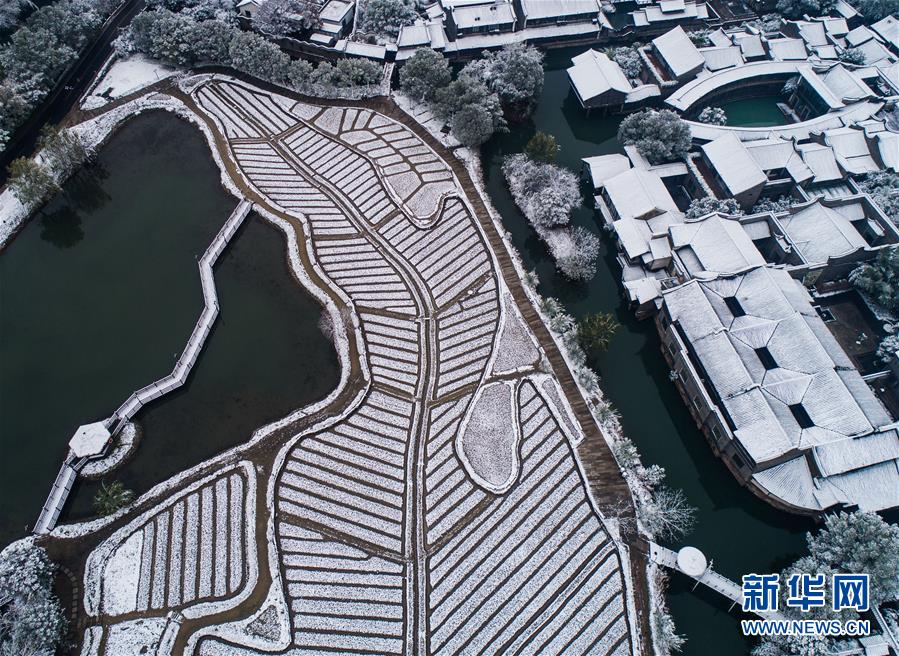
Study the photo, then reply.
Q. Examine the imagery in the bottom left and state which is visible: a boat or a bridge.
bridge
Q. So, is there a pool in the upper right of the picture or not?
Yes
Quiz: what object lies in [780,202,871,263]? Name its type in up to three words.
building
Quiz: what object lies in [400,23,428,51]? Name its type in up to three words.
house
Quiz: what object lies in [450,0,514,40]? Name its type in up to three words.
building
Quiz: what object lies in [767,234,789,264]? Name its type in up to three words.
shed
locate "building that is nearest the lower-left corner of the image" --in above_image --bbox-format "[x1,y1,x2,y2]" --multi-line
[68,422,125,471]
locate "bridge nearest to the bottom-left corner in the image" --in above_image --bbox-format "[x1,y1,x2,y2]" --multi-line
[25,440,83,532]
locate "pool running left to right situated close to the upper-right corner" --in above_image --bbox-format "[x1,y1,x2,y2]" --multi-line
[688,91,795,127]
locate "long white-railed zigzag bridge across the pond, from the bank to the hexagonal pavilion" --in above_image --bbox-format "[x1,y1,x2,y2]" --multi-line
[97,192,254,435]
